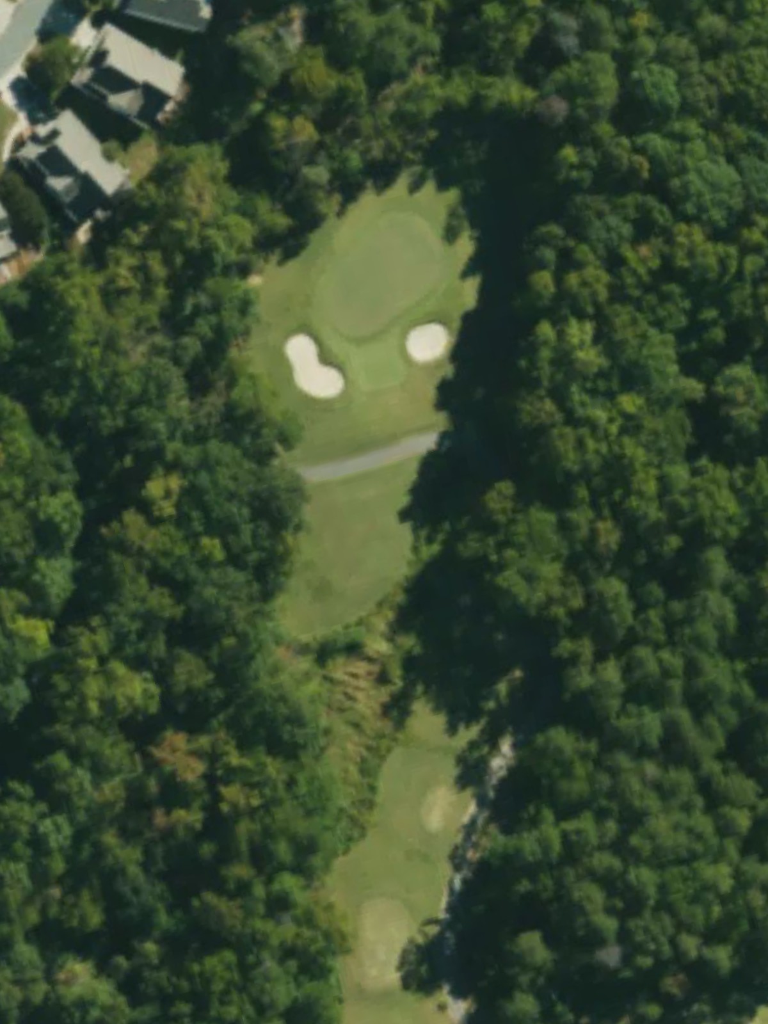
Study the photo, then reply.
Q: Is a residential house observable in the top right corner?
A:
No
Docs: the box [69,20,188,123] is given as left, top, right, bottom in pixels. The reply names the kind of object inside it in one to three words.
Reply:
house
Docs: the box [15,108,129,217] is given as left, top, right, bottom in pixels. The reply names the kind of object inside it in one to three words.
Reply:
house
